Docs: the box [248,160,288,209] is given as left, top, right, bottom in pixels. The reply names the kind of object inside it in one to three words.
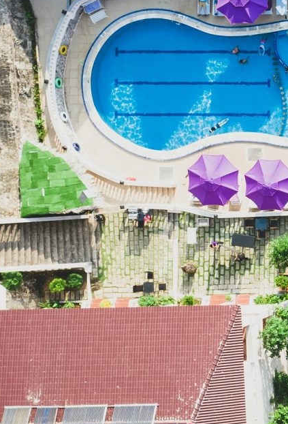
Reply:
umbrella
